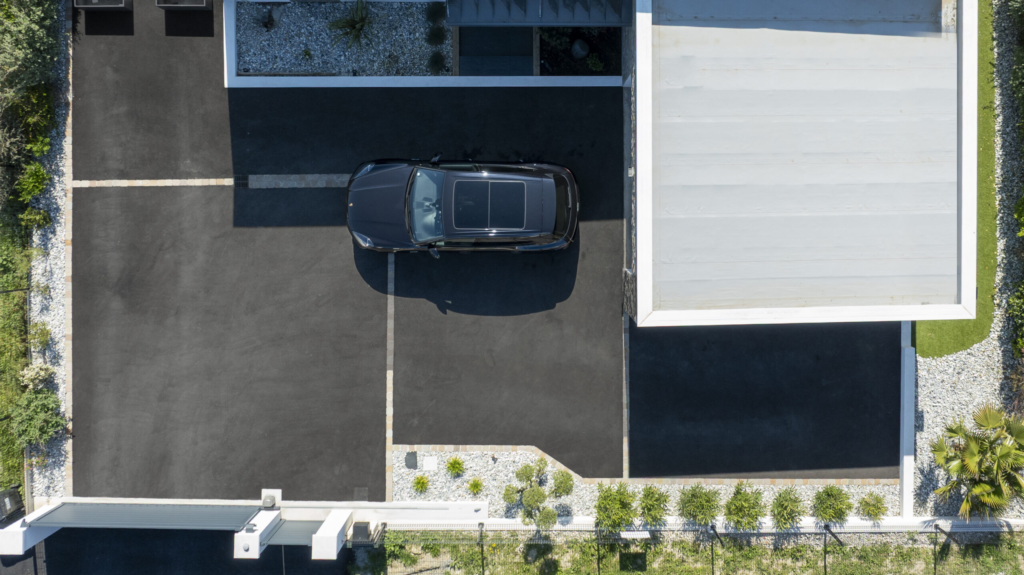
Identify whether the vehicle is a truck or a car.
car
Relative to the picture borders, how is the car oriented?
from left to right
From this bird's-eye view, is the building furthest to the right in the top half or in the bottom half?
top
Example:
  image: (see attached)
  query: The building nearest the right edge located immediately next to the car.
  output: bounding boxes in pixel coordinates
[625,0,977,326]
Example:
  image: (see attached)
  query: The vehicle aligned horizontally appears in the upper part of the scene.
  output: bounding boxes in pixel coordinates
[346,151,580,259]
